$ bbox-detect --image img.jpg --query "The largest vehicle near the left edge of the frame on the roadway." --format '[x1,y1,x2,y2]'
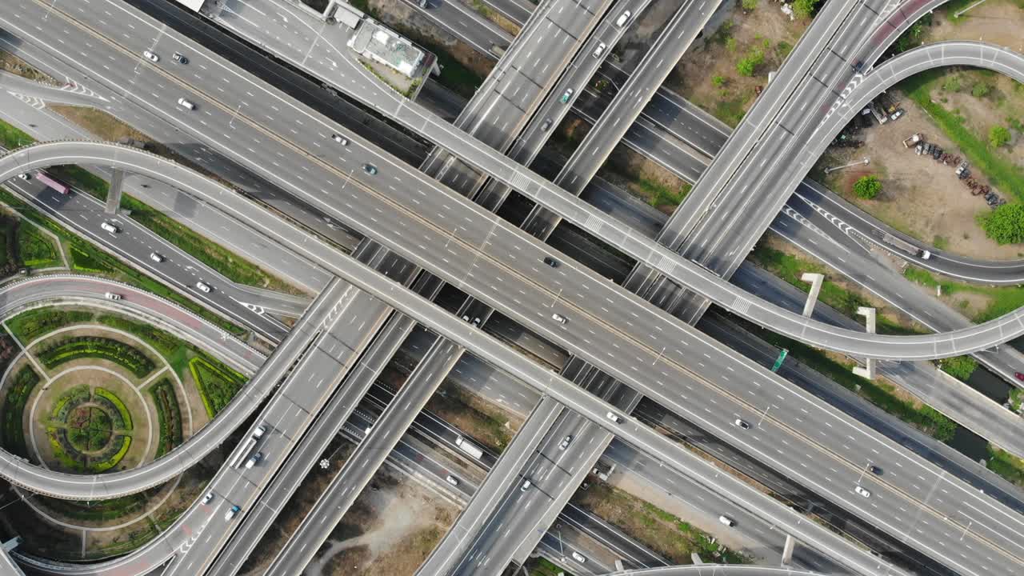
[28,170,72,196]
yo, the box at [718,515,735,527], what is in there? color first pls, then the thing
white vehicle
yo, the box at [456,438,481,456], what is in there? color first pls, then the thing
white vehicle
